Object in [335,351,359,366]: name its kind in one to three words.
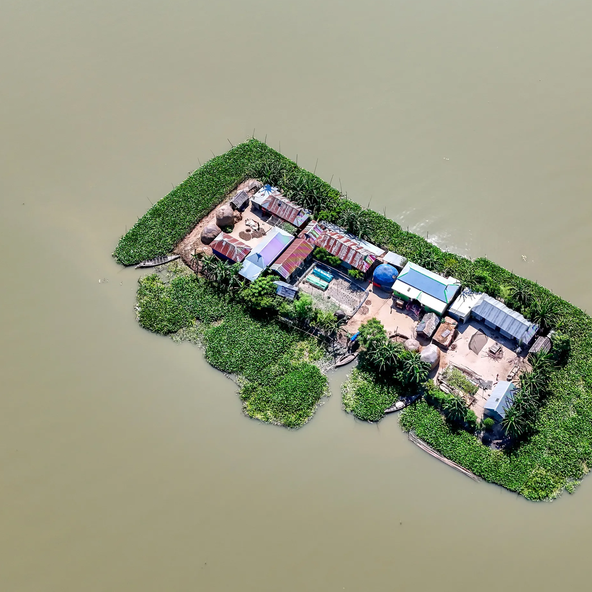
boat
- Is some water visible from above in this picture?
Yes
